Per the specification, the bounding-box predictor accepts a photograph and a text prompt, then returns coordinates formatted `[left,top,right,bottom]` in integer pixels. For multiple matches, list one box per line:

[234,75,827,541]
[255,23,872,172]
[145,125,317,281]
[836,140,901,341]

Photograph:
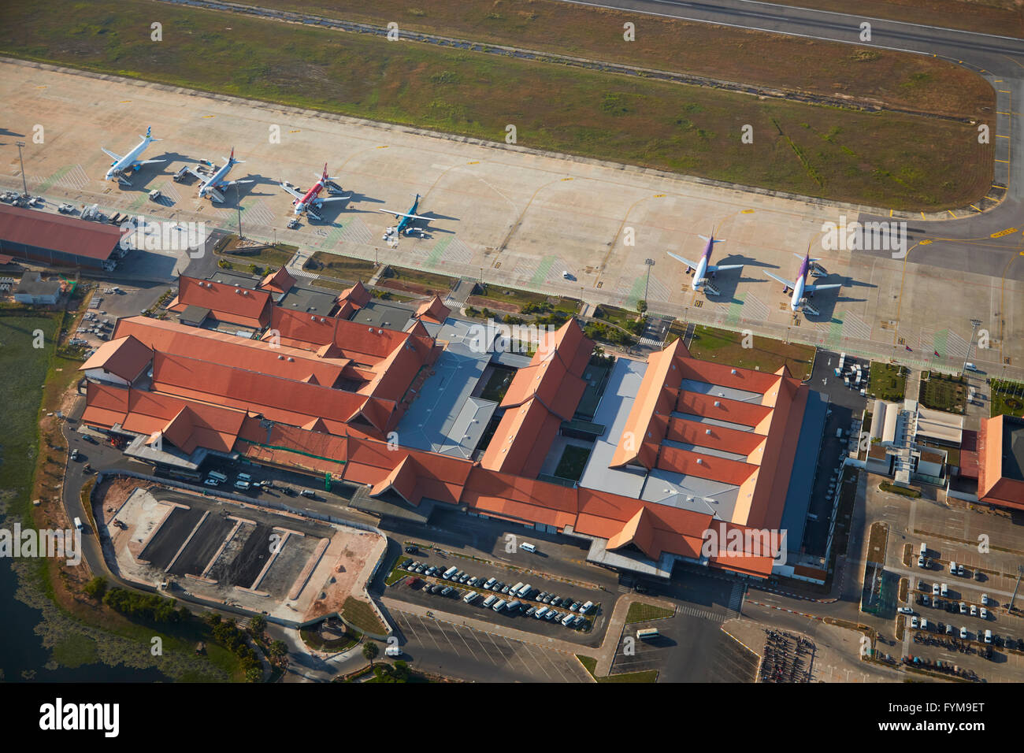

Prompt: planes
[761,251,839,309]
[185,146,252,198]
[666,235,742,290]
[281,163,351,215]
[94,129,160,179]
[379,196,436,235]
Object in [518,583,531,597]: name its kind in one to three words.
vehicle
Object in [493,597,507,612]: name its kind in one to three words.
vehicle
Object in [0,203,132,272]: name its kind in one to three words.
hangar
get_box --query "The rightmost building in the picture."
[959,414,1024,524]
